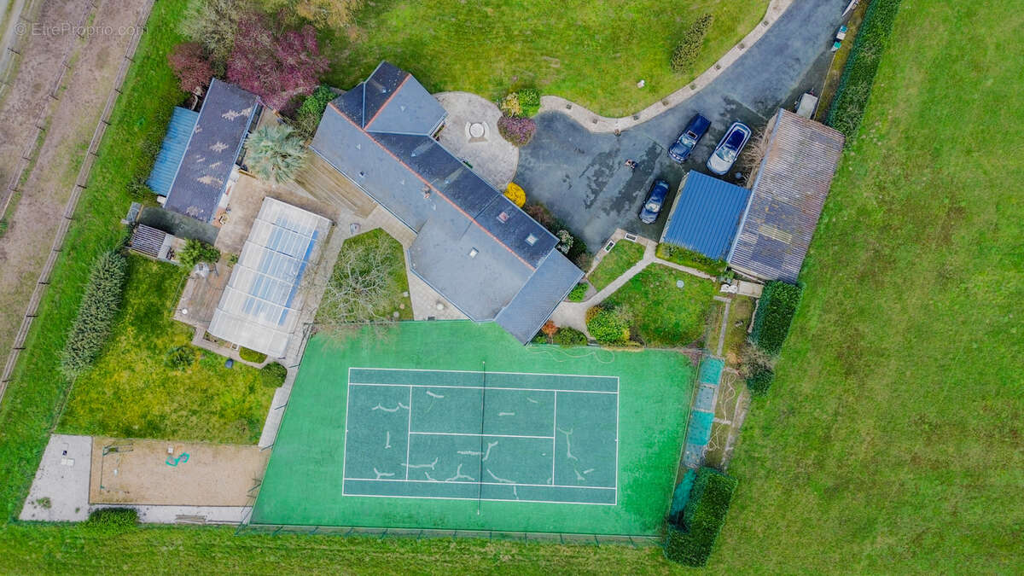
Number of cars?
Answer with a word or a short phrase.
three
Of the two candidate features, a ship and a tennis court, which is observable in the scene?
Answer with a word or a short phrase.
tennis court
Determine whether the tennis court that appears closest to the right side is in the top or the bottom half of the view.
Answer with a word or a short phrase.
bottom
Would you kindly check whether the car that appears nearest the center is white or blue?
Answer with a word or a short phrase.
blue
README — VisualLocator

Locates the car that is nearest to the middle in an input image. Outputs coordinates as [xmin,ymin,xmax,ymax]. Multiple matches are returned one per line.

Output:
[640,179,670,225]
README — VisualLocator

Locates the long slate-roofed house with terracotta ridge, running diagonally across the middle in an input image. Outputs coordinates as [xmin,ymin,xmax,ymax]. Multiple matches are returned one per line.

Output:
[308,59,584,346]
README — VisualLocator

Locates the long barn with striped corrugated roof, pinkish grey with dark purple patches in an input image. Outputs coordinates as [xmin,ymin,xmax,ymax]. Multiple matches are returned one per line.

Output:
[720,108,845,284]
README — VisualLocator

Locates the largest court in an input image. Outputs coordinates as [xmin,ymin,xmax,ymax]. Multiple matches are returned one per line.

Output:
[250,321,701,538]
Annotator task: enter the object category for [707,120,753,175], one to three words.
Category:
car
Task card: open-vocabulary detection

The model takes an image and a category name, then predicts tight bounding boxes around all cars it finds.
[707,120,753,175]
[640,179,670,225]
[666,112,713,166]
